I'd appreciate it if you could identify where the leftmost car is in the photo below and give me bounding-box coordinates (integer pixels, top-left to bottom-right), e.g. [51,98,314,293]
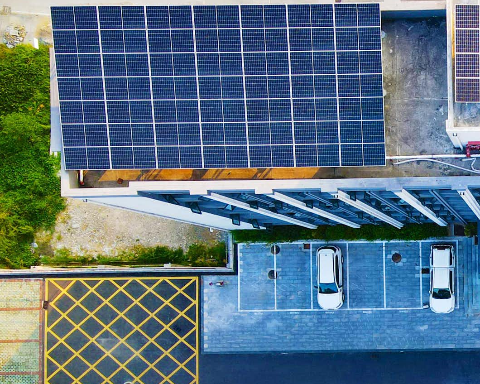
[315,245,346,310]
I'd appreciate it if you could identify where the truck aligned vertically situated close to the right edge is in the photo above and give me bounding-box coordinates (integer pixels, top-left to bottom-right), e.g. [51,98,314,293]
[427,244,457,315]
